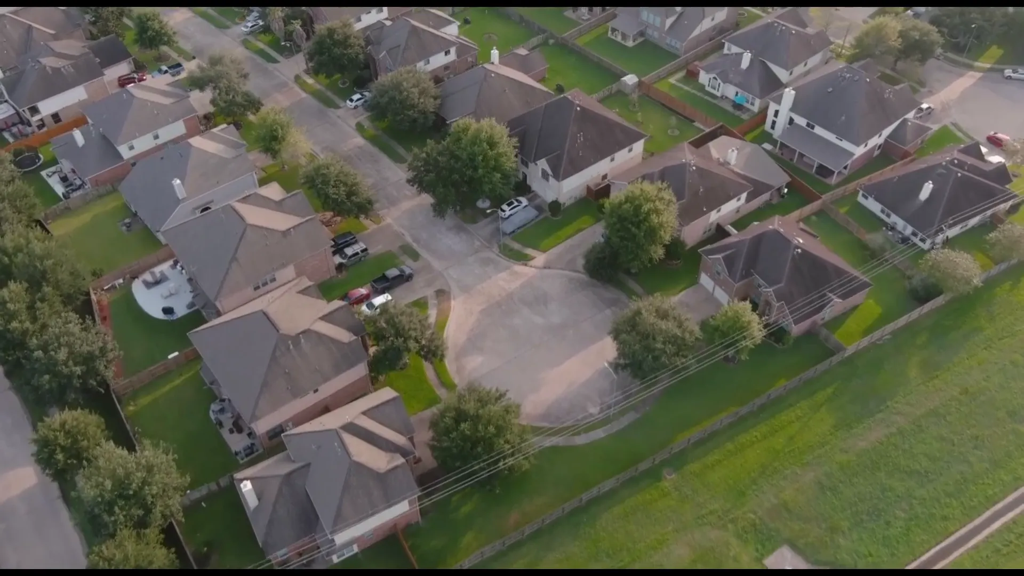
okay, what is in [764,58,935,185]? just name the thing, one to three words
house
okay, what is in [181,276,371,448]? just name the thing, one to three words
house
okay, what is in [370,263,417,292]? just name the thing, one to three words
truck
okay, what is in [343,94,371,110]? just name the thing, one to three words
car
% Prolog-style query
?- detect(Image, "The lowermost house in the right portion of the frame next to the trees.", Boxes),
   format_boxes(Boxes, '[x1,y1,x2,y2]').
[696,212,875,342]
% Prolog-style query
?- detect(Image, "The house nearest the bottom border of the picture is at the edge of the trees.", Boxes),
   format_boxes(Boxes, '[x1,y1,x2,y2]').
[231,387,422,568]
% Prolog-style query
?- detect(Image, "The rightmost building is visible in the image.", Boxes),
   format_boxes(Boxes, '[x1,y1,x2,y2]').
[856,137,1020,254]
